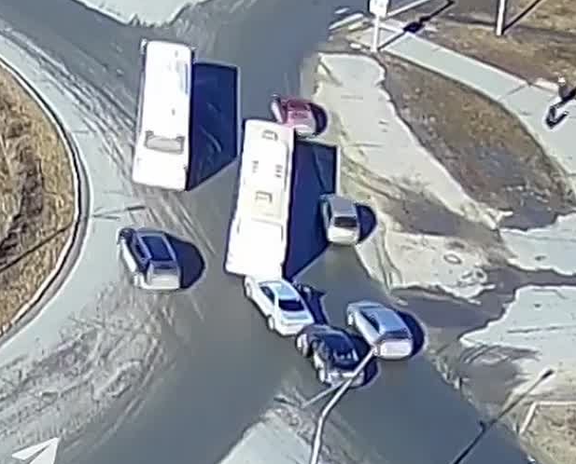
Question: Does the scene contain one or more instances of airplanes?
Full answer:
No, there's no airplane here.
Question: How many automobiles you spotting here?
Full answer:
The count of automobiles comes to 6.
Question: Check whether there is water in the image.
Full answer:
No, the picture contains no water.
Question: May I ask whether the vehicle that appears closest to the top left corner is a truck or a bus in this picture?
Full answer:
From above, the vehicle that appears closest to the top left corner can be identified as a bus.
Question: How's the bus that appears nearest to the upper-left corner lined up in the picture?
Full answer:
I'd say the bus that appears nearest to the upper-left corner is aligned from top to bottom in the picture.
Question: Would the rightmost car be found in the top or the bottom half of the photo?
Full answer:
You can find the rightmost car in the bottom half.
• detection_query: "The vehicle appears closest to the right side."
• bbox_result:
[350,303,414,357]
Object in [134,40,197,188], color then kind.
white bus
